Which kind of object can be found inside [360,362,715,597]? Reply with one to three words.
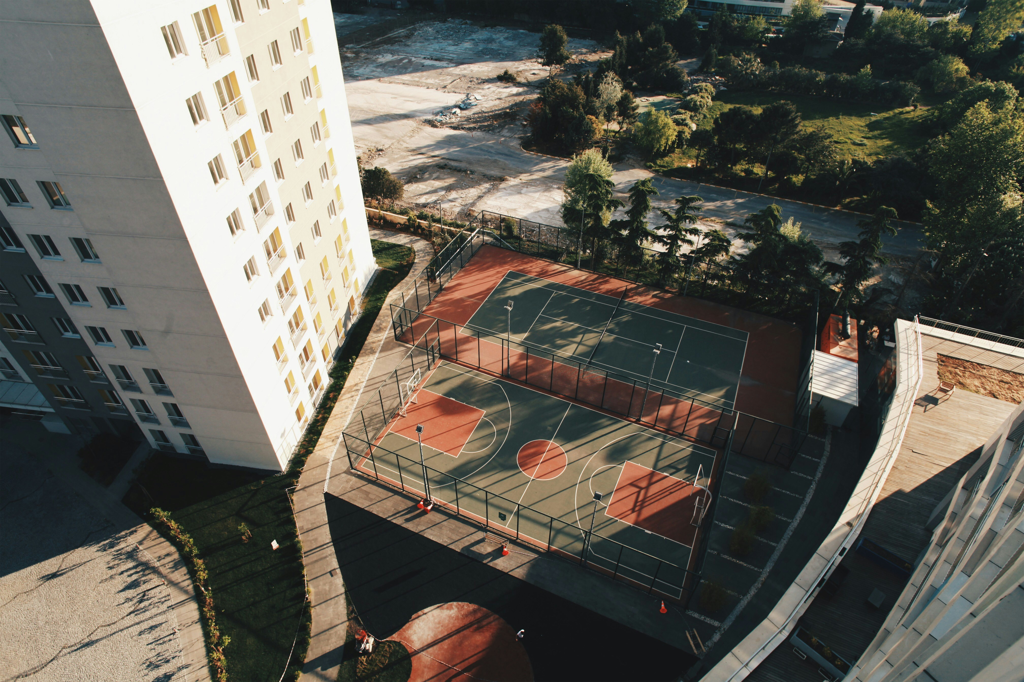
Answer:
basketball court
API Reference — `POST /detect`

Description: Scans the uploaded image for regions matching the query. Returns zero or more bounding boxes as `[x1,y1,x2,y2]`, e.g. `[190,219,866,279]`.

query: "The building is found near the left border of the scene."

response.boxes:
[0,0,377,471]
